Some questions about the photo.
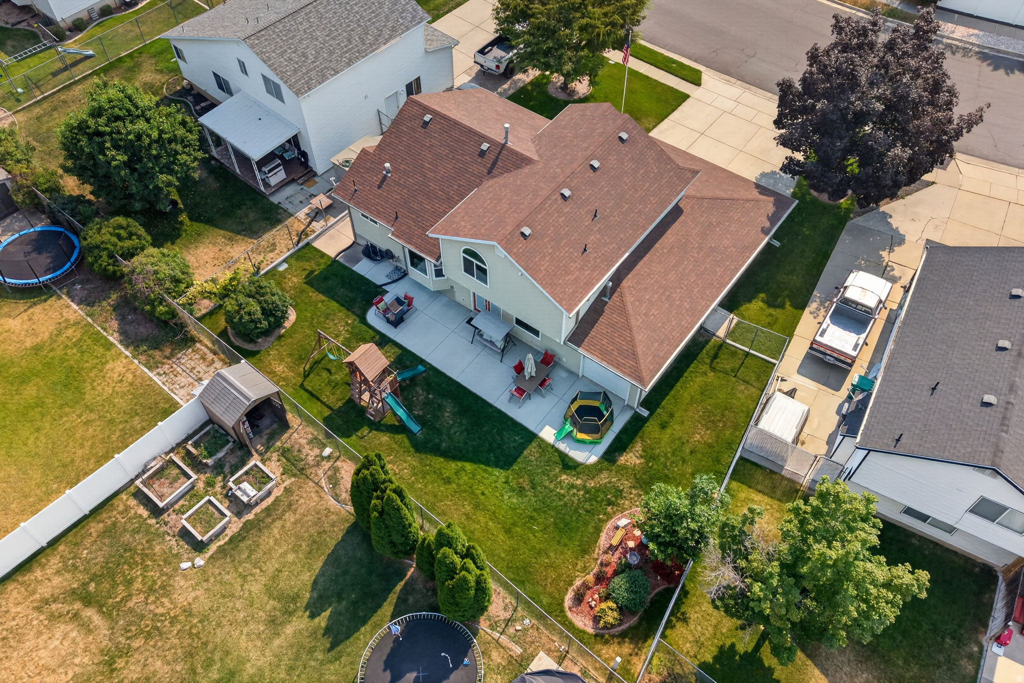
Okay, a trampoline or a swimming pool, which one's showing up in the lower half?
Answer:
trampoline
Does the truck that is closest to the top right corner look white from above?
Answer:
Yes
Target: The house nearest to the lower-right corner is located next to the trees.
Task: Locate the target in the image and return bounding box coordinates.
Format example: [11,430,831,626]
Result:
[827,248,1024,574]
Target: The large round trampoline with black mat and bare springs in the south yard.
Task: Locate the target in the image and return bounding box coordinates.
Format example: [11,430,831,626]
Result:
[356,609,485,683]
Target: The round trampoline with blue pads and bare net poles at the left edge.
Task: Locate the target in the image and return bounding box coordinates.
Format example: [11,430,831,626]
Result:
[0,208,81,305]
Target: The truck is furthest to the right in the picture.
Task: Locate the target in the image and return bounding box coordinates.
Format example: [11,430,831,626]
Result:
[807,269,892,372]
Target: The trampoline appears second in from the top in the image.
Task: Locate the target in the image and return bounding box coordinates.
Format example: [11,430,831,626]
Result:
[552,387,619,444]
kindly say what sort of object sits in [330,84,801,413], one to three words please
house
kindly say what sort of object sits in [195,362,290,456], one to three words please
shed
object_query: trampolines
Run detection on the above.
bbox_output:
[552,387,619,444]
[356,609,485,683]
[0,208,81,305]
